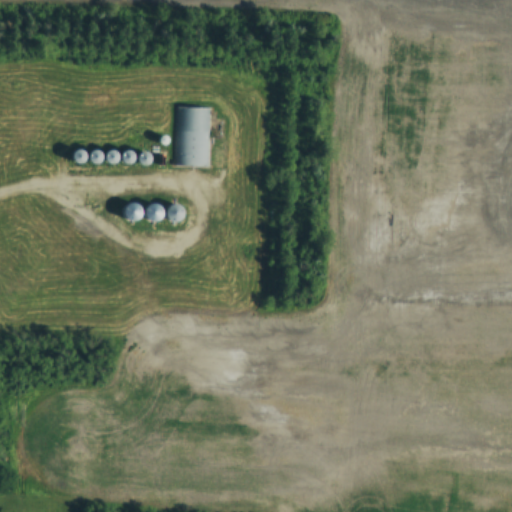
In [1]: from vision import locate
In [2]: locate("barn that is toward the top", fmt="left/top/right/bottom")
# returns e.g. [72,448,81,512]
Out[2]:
[177,106,212,168]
